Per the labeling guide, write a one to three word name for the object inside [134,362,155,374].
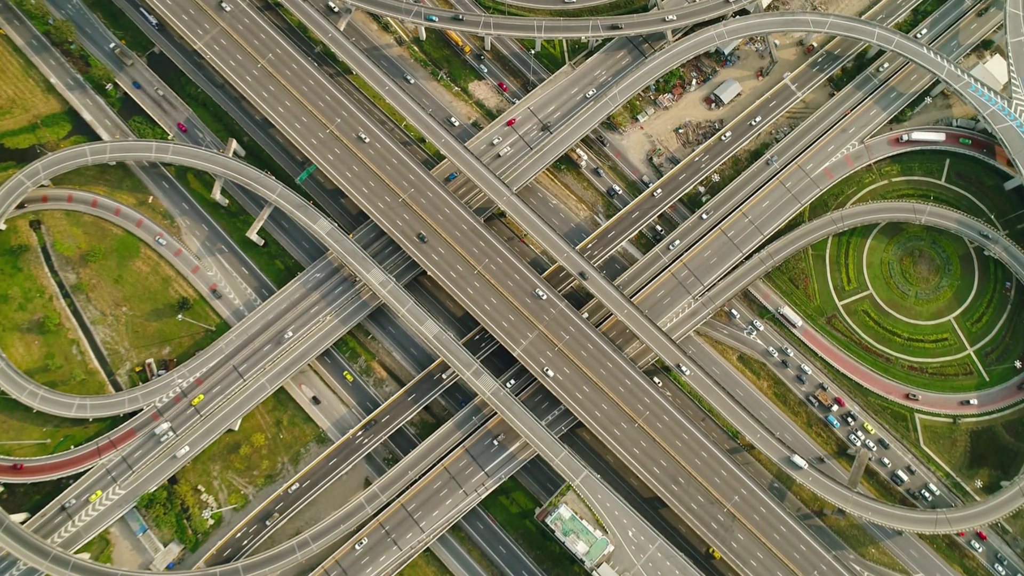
vehicle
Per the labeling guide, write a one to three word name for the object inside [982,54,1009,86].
building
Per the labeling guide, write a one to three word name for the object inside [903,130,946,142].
vehicle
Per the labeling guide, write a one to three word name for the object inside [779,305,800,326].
truck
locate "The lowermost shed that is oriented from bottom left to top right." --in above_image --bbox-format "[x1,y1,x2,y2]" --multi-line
[150,540,184,572]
